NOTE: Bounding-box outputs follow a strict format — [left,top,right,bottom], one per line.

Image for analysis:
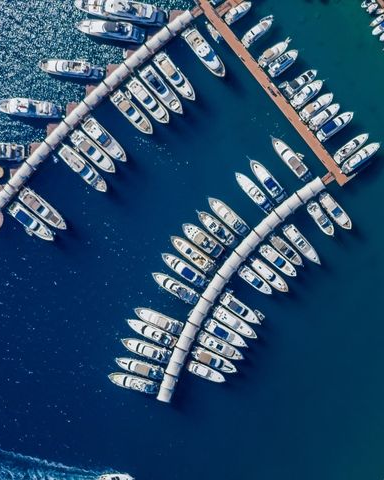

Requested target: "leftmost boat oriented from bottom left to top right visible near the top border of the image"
[226,3,251,26]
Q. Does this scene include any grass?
No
